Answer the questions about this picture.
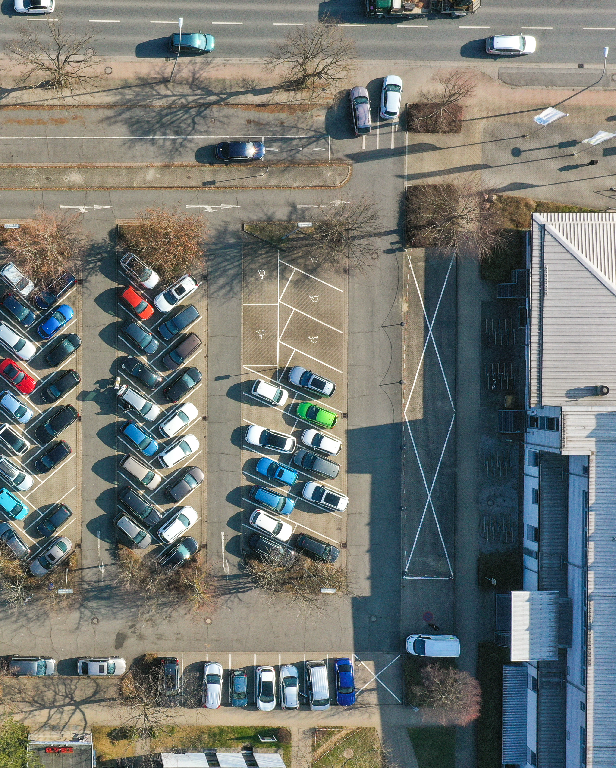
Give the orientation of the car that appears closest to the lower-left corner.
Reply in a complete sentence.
I'd say the car that appears closest to the lower-left corner is aligned from left to right in the picture.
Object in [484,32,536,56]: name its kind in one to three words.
car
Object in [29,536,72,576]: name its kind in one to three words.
car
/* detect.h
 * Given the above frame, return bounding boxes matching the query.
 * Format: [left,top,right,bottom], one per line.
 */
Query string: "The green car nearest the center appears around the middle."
[296,401,338,430]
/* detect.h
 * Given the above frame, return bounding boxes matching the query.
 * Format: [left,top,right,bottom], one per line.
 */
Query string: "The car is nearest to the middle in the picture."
[286,364,338,399]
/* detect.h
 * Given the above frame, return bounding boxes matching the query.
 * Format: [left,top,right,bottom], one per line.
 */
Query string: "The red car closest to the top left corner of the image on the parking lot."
[119,285,153,320]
